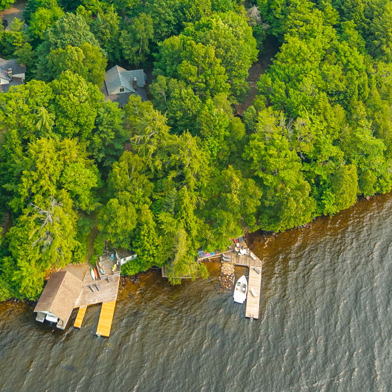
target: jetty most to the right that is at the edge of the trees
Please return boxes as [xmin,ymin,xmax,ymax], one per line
[222,247,262,322]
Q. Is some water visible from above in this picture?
Yes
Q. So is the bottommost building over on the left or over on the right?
left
